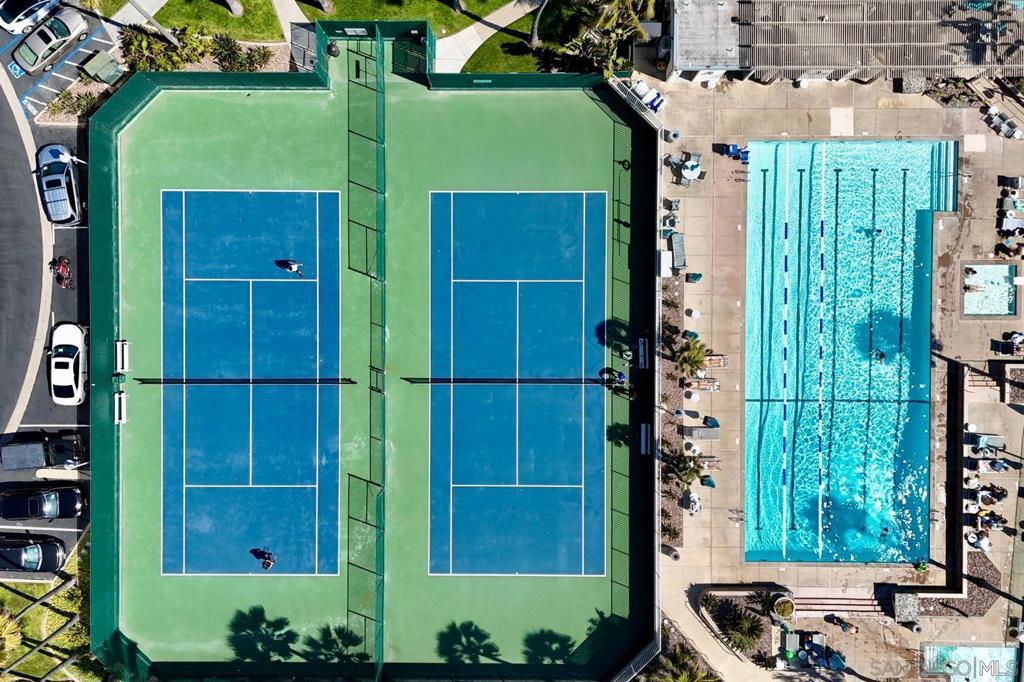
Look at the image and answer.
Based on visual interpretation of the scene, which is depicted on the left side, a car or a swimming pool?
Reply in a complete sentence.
The feature located on the left side is a car.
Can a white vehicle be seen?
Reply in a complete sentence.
Yes, the image includes a white vehicle.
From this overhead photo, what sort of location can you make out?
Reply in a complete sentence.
This image shows a sports ground.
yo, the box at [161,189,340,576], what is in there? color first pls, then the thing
blue tennis court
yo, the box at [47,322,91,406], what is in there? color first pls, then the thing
white car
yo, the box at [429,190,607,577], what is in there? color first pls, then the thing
blue tennis court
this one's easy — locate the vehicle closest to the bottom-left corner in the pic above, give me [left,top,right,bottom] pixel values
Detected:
[0,538,69,577]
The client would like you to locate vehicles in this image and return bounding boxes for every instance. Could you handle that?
[0,538,69,577]
[0,432,84,469]
[47,322,91,406]
[0,484,87,523]
[35,142,86,226]
[51,256,75,289]
[8,11,93,73]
